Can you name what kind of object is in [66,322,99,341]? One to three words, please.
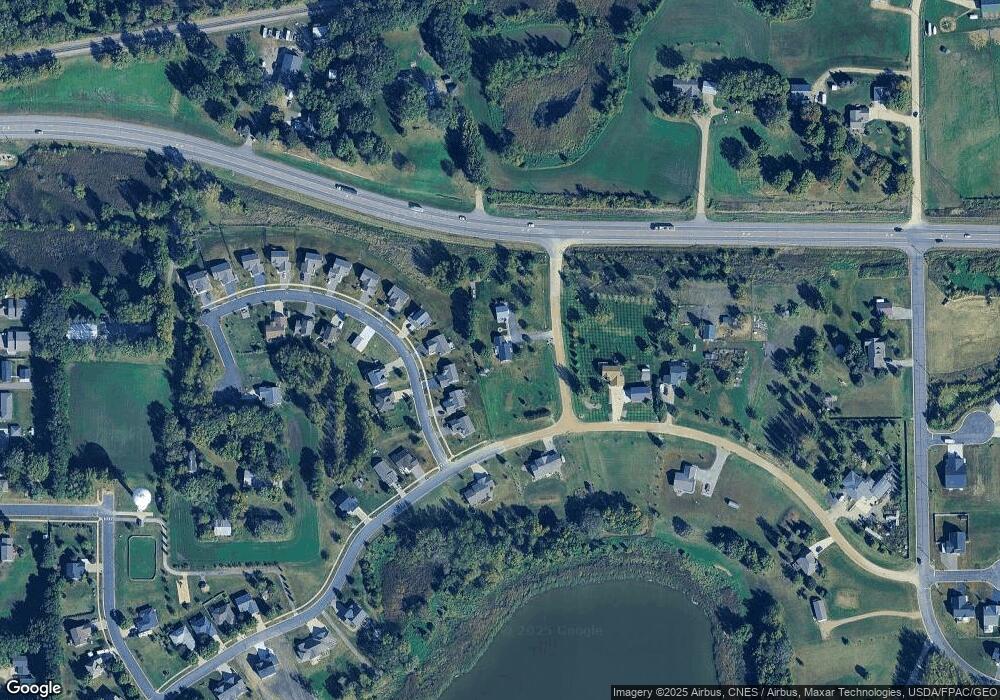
building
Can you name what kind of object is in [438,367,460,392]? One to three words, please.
house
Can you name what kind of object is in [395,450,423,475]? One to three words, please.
house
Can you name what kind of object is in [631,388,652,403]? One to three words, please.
building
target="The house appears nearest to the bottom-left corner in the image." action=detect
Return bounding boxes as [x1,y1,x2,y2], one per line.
[11,656,30,679]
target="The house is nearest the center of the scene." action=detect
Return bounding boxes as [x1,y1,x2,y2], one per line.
[495,341,512,361]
